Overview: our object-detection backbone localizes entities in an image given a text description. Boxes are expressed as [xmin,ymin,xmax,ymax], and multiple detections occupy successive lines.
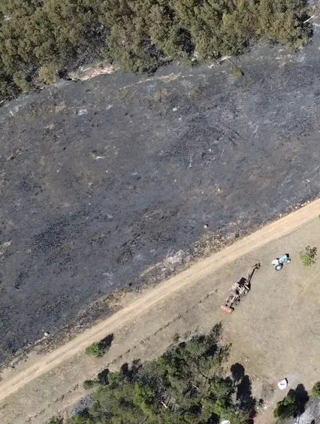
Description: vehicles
[270,253,291,269]
[223,265,259,312]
